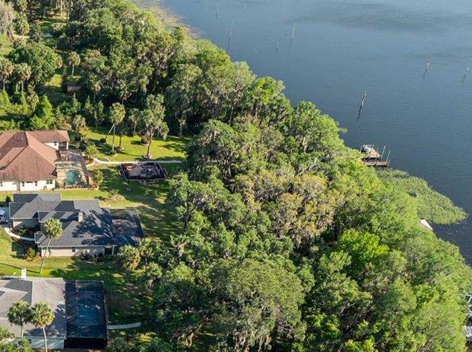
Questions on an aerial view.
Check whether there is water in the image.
Yes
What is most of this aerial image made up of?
trees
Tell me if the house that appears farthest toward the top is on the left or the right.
left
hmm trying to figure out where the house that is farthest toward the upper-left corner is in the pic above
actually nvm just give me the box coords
[0,128,90,189]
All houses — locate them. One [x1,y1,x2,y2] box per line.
[0,265,107,349]
[9,193,142,254]
[0,128,90,189]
